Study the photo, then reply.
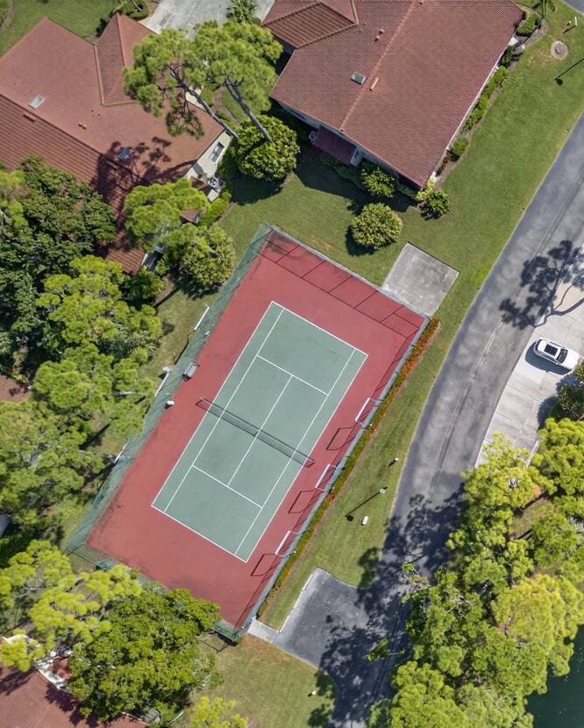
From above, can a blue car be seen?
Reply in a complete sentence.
No, I can't see a single blue car in this photo.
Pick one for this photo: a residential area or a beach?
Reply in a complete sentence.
The picture captures a residential area.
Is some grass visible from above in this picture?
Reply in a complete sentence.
Yes, grass can be seen from above here.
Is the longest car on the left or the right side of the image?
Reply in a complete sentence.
You can find the longest car on the right side of the picture.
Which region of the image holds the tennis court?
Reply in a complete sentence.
The tennis court sits in the center section of the image.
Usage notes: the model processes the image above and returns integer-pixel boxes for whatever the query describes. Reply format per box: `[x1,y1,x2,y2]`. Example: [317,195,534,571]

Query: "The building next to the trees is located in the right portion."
[262,0,525,190]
